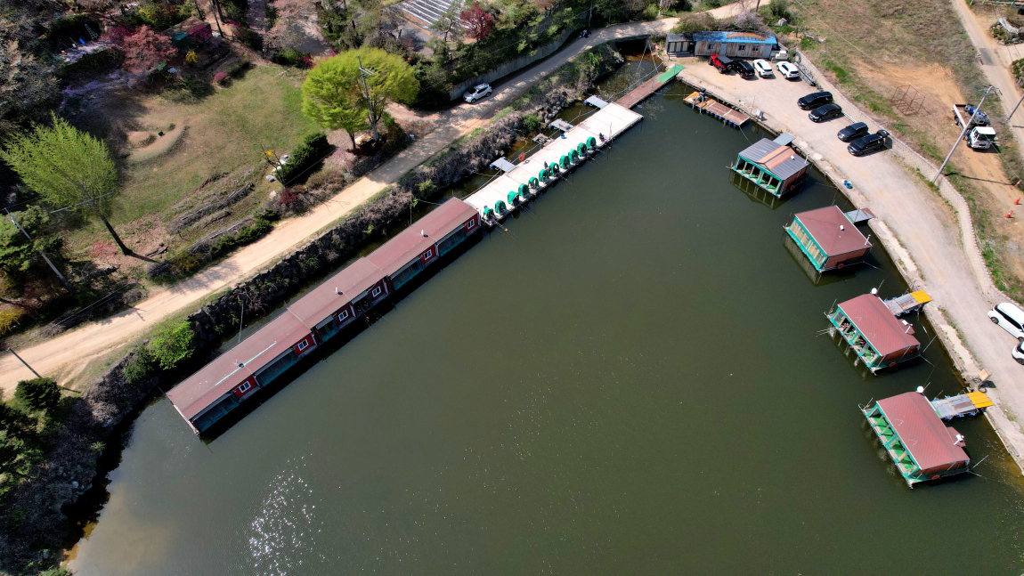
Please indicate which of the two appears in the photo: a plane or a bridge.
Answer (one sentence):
The image shows a bridge.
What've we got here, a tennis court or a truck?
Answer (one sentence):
I can see a truck in this picture.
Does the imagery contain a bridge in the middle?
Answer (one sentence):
No, no bridge is visible in the middle.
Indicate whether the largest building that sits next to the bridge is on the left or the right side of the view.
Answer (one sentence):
The largest building that sits next to the bridge sits on the right side.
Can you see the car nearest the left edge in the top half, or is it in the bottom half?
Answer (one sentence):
It is in the top half that the car nearest the left edge appears.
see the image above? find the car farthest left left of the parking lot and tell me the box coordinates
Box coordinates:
[462,81,495,102]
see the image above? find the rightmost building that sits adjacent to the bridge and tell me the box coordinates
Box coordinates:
[693,29,781,58]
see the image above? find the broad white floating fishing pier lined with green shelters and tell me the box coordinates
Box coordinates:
[464,102,643,227]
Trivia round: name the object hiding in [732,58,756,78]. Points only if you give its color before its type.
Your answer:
black car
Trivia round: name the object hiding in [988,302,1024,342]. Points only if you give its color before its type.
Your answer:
white car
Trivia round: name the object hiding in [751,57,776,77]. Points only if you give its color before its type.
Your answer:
white car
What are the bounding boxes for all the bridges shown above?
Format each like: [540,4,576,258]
[609,20,668,54]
